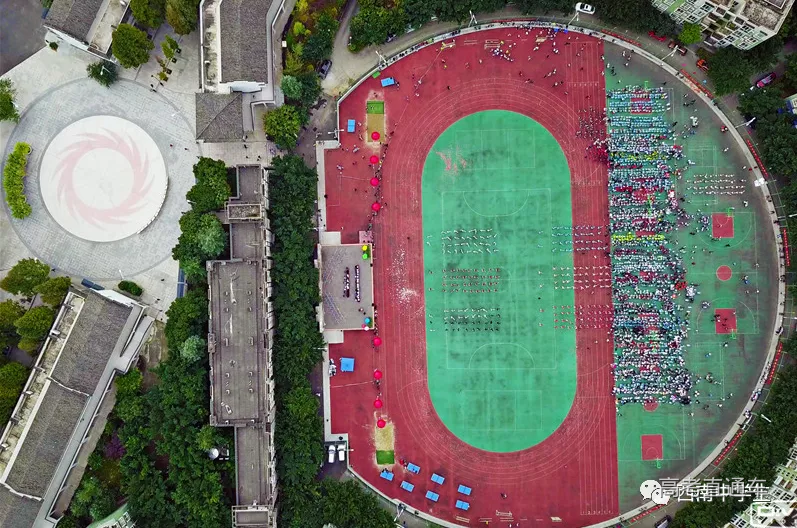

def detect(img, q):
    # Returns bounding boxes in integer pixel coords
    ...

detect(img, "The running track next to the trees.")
[325,26,620,528]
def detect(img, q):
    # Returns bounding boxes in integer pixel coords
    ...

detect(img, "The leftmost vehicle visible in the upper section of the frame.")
[318,58,331,76]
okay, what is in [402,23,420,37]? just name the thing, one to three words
vehicle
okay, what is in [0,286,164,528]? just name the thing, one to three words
building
